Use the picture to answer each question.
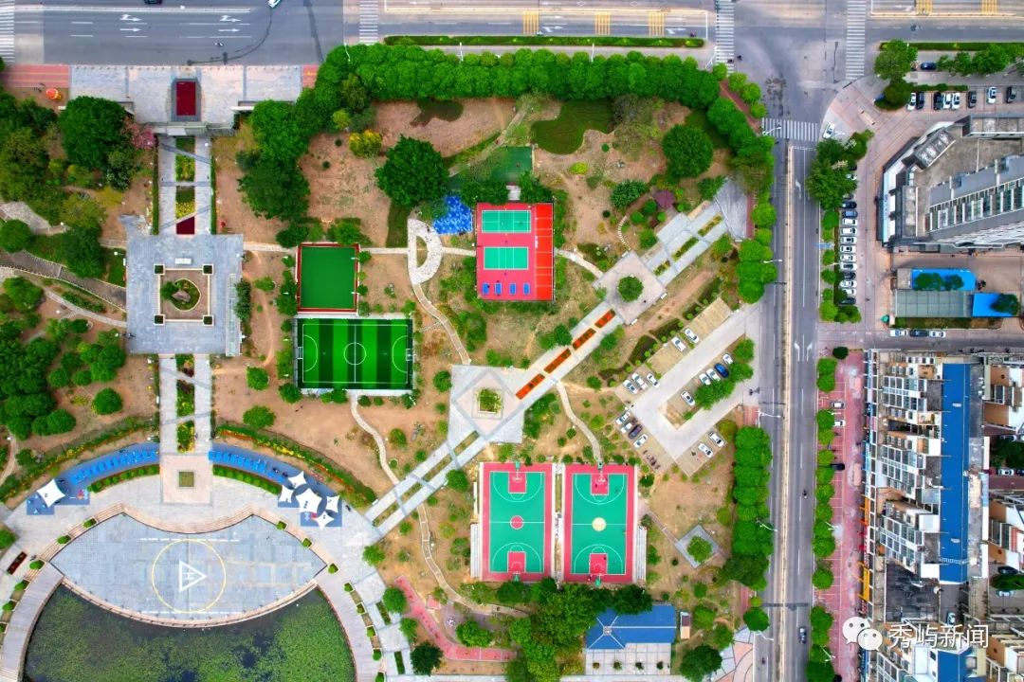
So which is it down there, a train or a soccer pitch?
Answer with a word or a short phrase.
soccer pitch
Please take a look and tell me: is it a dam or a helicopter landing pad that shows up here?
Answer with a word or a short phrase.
helicopter landing pad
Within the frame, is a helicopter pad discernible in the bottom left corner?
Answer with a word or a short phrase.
Yes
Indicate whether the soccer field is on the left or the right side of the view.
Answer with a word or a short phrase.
left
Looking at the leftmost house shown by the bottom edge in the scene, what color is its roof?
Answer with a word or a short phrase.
blue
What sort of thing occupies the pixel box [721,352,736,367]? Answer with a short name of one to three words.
car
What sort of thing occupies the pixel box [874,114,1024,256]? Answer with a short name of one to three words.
building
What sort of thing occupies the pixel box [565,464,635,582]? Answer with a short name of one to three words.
basketball court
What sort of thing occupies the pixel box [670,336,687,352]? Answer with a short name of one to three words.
car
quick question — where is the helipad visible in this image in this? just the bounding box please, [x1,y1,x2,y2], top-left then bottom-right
[151,539,226,613]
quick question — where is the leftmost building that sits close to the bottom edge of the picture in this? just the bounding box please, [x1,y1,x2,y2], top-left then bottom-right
[586,602,676,650]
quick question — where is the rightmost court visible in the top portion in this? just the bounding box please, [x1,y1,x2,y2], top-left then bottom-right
[476,202,553,301]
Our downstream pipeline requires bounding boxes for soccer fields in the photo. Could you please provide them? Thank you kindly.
[293,313,414,395]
